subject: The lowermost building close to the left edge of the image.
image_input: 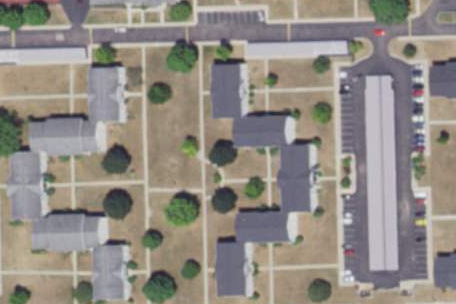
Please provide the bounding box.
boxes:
[6,66,136,300]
